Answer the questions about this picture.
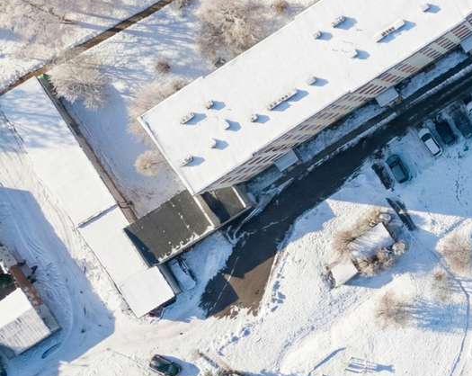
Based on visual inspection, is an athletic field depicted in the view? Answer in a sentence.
No, I can see no athletic field in this picture.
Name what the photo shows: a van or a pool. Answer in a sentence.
I can see a van in this picture.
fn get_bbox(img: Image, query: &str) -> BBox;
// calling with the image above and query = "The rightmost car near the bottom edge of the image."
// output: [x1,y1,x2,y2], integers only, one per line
[149,356,183,375]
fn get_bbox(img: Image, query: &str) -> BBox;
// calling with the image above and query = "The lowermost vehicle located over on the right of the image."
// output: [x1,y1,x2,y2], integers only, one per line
[388,155,409,182]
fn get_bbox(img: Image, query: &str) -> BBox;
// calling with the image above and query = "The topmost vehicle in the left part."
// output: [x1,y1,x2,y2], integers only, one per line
[170,258,198,290]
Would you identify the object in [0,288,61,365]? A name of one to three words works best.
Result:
house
